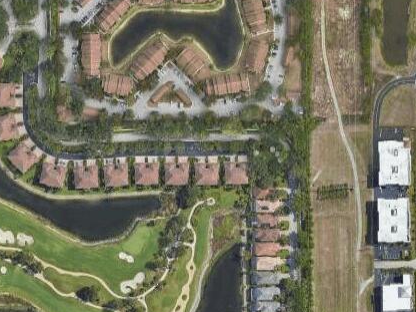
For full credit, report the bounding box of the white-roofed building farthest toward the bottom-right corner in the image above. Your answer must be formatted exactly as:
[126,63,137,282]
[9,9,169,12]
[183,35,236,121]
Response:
[383,274,411,312]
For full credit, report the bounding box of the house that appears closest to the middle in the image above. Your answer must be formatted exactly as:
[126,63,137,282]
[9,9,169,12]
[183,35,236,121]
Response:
[196,159,220,186]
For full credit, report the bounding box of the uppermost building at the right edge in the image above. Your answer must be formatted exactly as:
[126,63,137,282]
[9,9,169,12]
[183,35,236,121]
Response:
[378,138,412,185]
